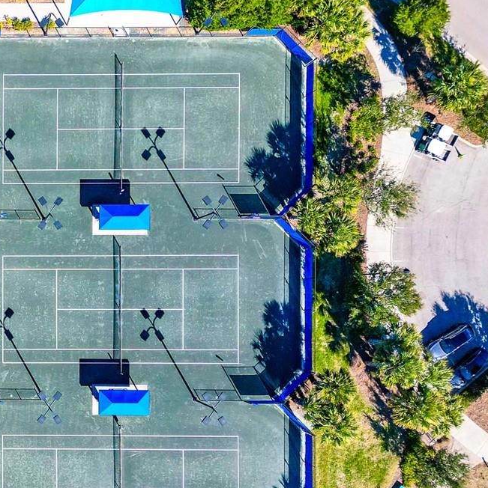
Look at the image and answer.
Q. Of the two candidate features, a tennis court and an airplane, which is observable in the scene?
tennis court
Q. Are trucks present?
No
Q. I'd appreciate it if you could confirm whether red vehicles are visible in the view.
No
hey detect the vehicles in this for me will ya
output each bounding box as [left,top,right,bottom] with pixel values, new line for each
[451,348,488,390]
[425,321,477,359]
[424,125,456,149]
[413,138,447,161]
